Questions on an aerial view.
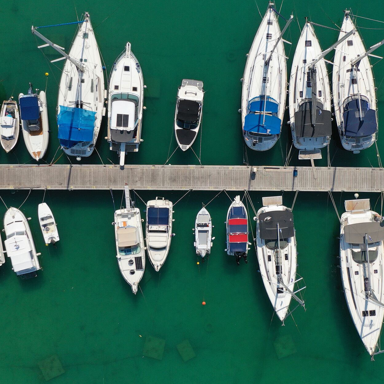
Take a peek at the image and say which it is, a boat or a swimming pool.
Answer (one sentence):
The image shows a boat.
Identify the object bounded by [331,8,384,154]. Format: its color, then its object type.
white boat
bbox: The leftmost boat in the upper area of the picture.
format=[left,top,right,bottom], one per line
[0,97,20,153]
